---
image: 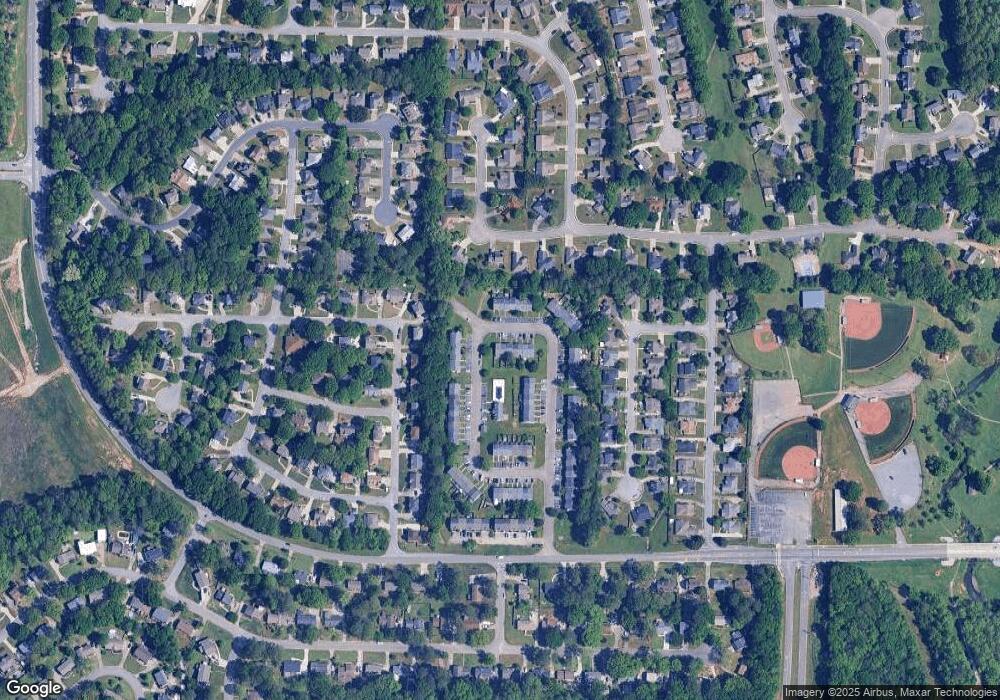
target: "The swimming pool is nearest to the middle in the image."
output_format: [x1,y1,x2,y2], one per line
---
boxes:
[492,379,505,402]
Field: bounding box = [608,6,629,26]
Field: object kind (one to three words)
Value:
house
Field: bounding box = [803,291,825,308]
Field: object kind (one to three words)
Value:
building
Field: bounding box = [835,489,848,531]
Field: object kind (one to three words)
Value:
building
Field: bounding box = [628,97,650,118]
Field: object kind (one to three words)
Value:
house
